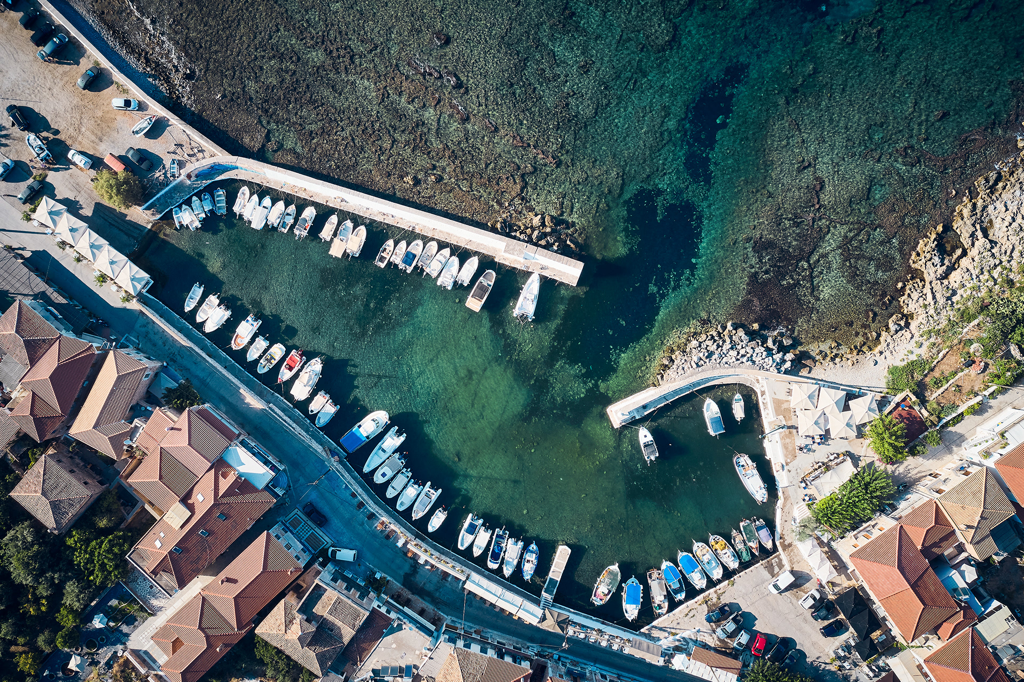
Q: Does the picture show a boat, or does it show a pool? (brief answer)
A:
boat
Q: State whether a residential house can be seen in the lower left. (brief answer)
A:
Yes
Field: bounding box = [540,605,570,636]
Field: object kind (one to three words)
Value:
umbrella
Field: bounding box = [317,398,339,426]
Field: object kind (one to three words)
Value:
boat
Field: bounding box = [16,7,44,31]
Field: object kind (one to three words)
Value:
car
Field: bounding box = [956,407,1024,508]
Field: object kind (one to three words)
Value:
house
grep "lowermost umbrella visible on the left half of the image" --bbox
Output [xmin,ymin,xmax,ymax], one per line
[68,649,93,672]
